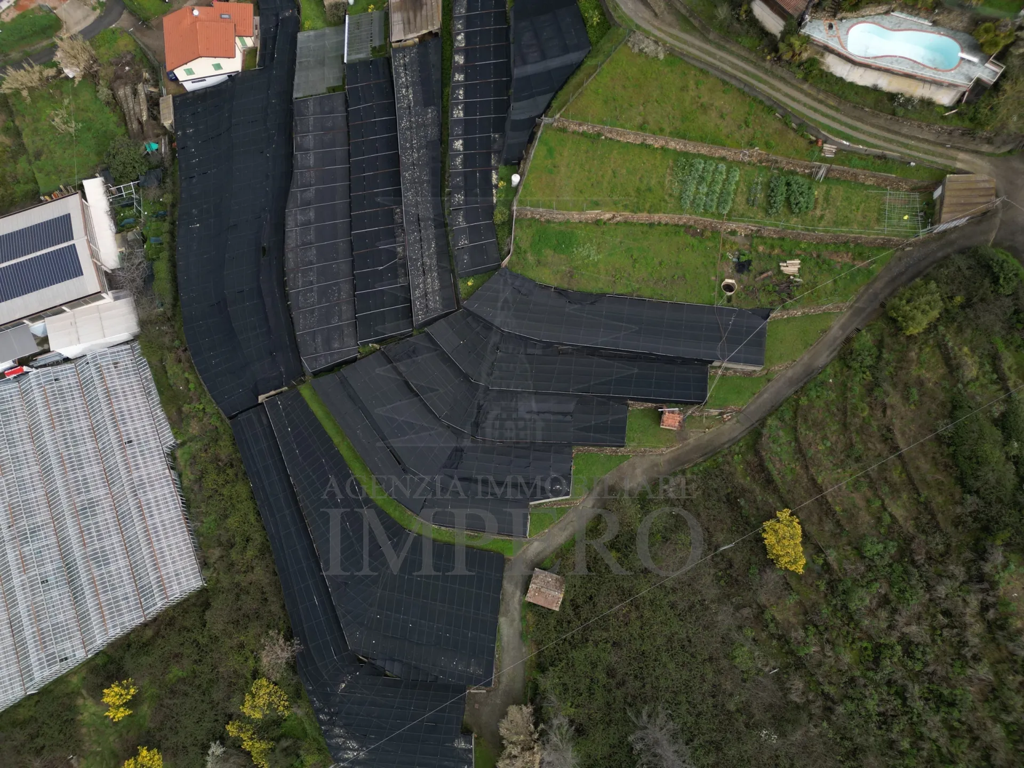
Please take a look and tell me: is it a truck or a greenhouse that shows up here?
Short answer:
greenhouse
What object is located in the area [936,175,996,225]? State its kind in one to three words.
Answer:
shed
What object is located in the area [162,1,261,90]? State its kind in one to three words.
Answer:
house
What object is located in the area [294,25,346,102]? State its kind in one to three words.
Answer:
greenhouse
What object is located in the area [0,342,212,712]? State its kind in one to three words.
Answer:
greenhouse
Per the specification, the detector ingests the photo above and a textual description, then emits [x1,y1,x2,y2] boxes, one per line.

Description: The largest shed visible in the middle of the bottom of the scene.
[525,568,564,611]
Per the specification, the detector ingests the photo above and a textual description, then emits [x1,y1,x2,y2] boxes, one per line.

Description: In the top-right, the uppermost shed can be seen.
[751,0,808,47]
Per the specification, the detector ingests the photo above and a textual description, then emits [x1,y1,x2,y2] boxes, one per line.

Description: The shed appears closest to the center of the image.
[658,408,683,432]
